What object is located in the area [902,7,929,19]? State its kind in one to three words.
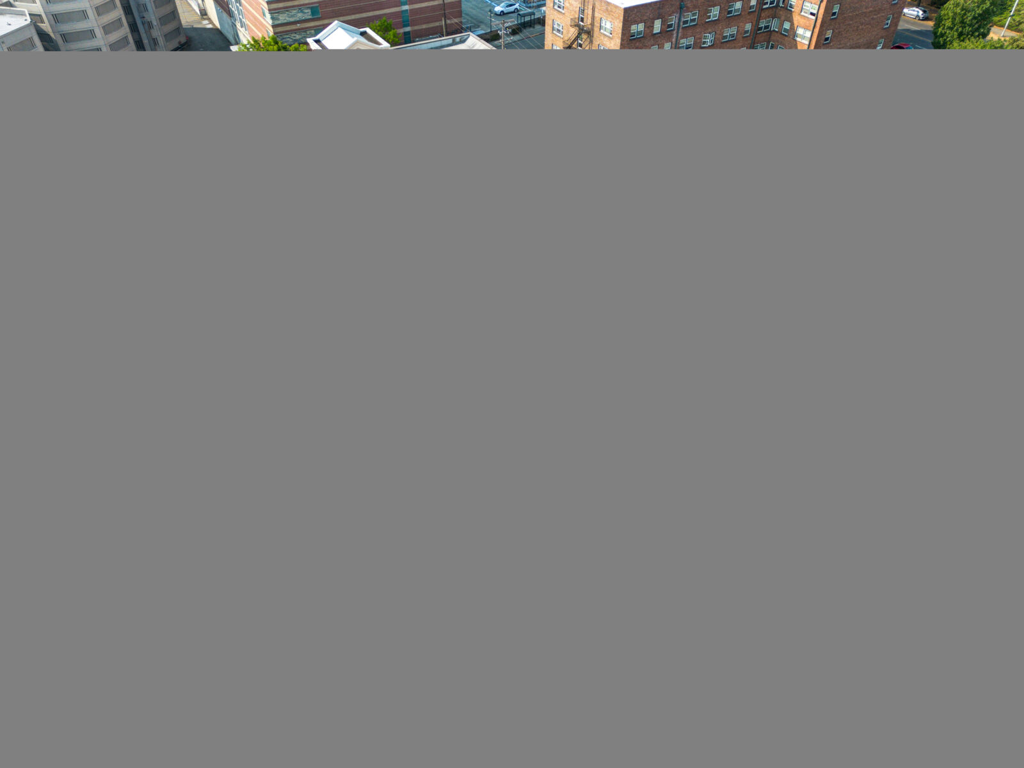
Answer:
vehicle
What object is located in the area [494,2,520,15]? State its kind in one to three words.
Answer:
vehicle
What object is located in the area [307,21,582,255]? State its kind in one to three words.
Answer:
building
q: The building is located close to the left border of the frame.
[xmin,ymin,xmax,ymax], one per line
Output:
[0,0,187,145]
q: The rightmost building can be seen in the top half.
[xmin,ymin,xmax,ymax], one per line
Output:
[544,0,907,147]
